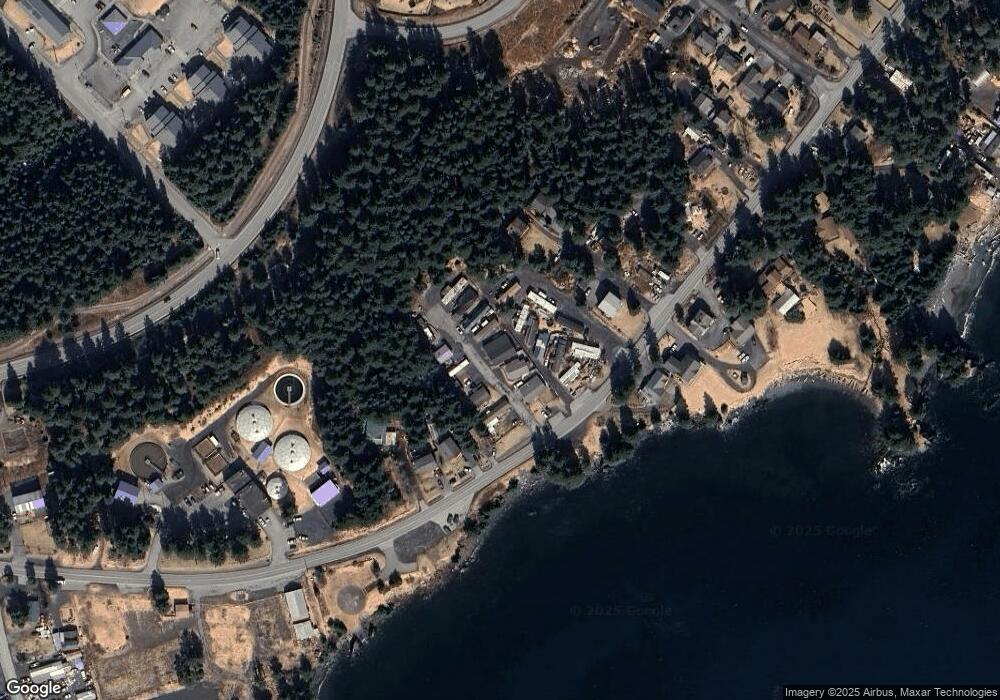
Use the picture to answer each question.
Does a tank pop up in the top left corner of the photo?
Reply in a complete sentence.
No, the scene shows no tank in the top left corner of the photo.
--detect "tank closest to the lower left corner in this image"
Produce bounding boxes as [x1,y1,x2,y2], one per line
[130,442,167,479]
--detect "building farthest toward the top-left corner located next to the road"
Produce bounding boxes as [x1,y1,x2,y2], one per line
[16,0,70,42]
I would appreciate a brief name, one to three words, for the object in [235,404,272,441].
storage tank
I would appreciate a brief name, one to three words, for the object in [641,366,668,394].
house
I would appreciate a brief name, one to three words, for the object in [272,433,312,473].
storage tank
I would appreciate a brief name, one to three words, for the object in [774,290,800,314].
shed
